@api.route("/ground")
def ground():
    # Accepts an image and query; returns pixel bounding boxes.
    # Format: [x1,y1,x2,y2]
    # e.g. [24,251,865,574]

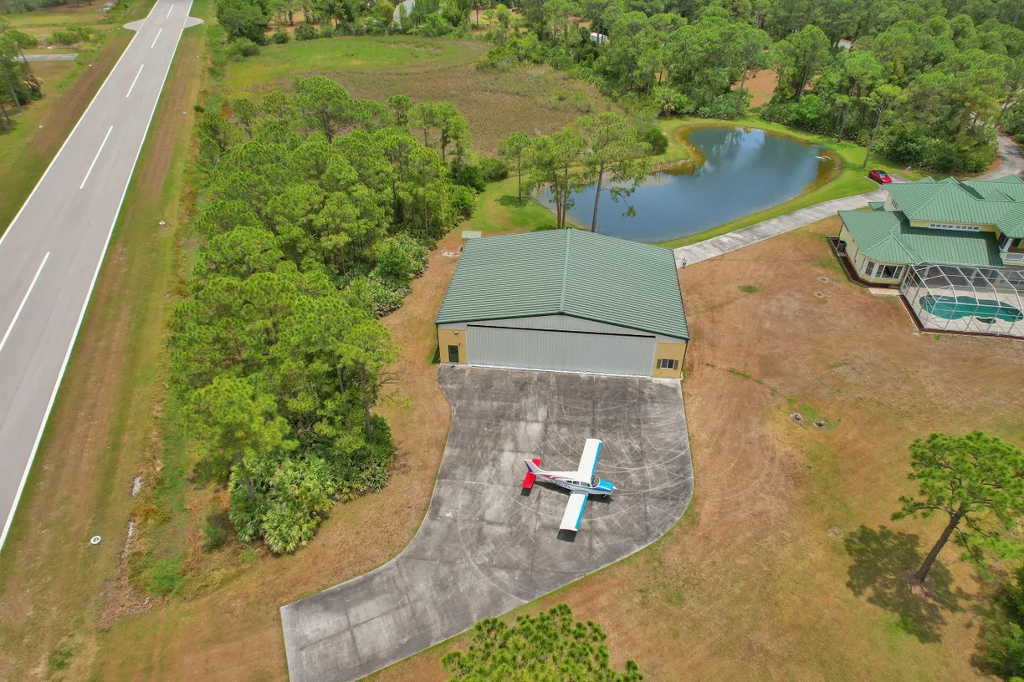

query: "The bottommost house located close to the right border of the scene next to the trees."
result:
[834,162,1024,291]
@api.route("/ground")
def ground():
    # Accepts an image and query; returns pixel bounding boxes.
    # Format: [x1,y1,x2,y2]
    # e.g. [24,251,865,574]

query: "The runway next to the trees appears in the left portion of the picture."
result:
[0,0,192,565]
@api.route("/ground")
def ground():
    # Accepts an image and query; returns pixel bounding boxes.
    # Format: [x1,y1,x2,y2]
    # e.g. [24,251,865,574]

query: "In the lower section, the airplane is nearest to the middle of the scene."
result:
[524,438,617,532]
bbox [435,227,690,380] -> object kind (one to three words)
hangar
